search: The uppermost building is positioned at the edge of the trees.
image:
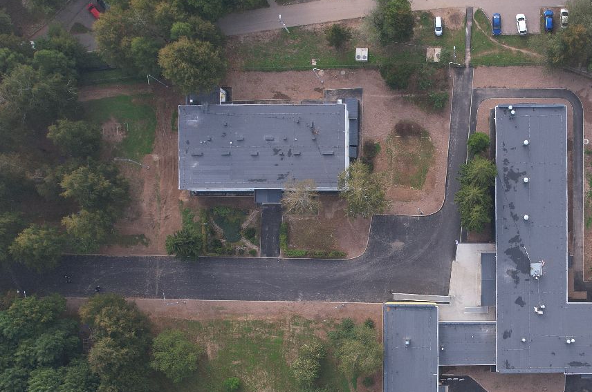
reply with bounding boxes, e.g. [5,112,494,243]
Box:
[178,86,360,204]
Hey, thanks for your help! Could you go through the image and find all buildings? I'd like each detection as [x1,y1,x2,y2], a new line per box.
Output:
[481,105,592,378]
[383,302,448,392]
[178,86,360,204]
